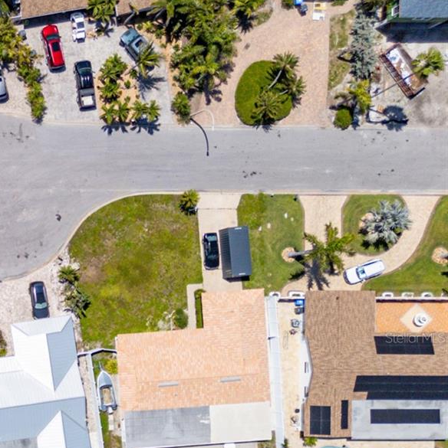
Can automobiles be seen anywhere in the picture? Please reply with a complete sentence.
Yes, I can see an automobile in this picture.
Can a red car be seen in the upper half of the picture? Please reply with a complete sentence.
Yes, a red car appears in the upper half of the picture.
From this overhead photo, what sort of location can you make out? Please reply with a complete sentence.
The picture captures a residential area.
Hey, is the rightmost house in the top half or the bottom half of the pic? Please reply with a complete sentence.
The top half of the photo is where the rightmost house is.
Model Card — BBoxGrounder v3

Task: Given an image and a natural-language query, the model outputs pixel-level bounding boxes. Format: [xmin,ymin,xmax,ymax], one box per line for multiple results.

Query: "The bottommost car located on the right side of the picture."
[337,259,383,285]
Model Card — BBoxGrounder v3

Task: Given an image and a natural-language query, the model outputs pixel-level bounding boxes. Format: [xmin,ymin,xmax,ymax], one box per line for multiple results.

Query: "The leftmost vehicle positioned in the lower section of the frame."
[29,280,52,320]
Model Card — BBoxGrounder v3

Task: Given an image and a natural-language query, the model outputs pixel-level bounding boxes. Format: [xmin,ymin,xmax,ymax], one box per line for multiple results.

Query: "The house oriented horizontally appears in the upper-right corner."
[374,0,448,32]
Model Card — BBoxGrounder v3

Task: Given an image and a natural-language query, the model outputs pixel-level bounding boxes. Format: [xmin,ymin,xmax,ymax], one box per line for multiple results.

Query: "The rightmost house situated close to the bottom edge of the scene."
[295,290,448,441]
